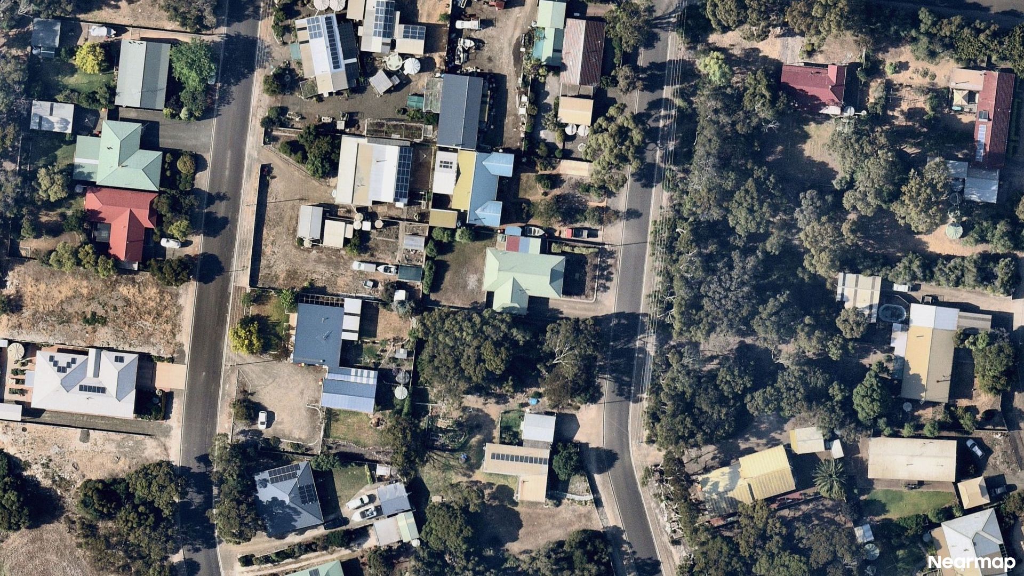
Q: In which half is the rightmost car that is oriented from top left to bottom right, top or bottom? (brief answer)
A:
bottom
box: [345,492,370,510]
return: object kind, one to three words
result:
vehicle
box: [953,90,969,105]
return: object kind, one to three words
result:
gazebo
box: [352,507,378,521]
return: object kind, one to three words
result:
boat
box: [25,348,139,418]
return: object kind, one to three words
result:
house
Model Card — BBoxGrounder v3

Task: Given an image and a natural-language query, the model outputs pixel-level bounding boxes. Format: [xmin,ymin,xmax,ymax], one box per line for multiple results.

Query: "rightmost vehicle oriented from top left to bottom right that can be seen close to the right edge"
[966,438,986,460]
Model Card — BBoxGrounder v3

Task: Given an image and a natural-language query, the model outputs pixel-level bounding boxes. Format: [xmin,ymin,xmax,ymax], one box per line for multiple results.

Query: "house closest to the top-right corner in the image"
[950,68,1015,169]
